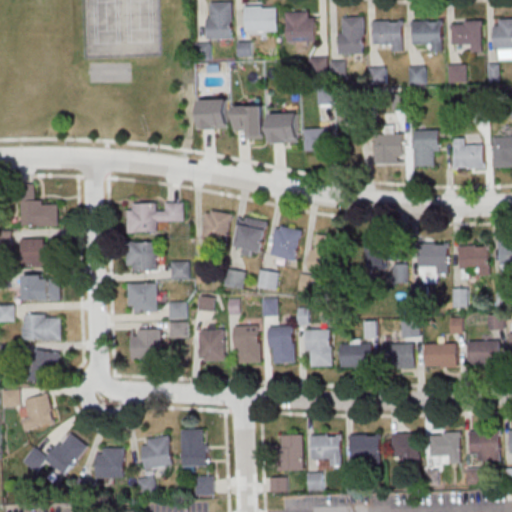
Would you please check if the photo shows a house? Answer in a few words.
Yes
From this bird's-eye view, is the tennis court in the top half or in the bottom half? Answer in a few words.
top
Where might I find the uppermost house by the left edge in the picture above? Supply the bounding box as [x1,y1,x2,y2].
[20,184,58,228]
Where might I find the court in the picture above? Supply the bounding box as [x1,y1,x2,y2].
[86,0,160,57]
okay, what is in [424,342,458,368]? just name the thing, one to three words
house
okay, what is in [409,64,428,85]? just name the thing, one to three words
building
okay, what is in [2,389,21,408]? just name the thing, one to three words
building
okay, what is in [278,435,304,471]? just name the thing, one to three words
house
